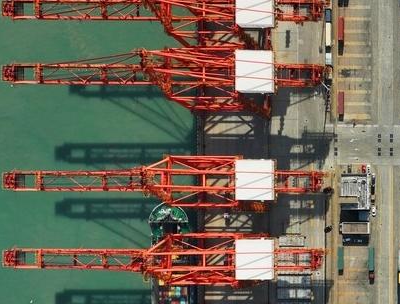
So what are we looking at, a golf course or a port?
port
